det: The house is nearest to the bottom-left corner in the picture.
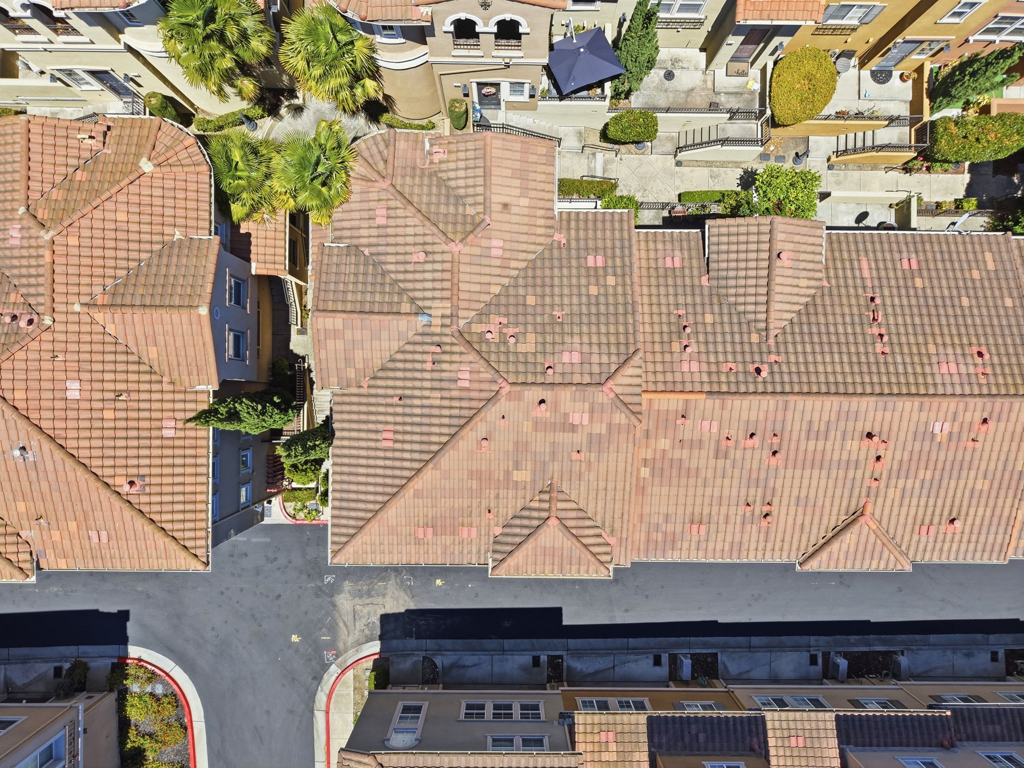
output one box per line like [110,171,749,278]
[0,692,117,768]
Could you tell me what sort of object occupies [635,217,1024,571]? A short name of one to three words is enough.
house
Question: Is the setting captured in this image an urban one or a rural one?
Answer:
urban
